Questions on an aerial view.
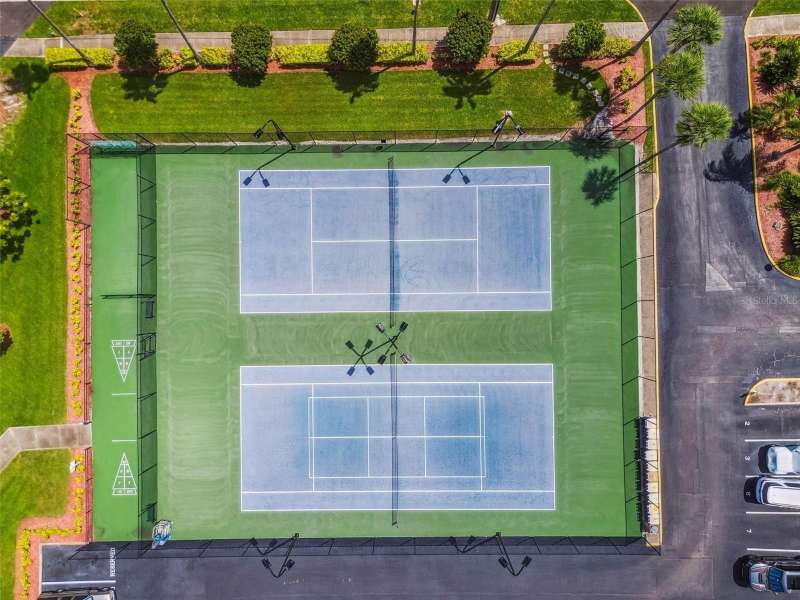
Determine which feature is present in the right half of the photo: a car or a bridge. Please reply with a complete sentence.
It is a car that can be seen in the right half of the photo.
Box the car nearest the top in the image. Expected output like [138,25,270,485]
[764,445,800,477]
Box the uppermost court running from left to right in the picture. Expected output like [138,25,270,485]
[239,166,552,313]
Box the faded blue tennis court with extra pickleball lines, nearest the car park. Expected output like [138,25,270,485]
[240,364,555,512]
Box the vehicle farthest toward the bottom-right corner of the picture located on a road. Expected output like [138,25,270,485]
[744,558,800,595]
